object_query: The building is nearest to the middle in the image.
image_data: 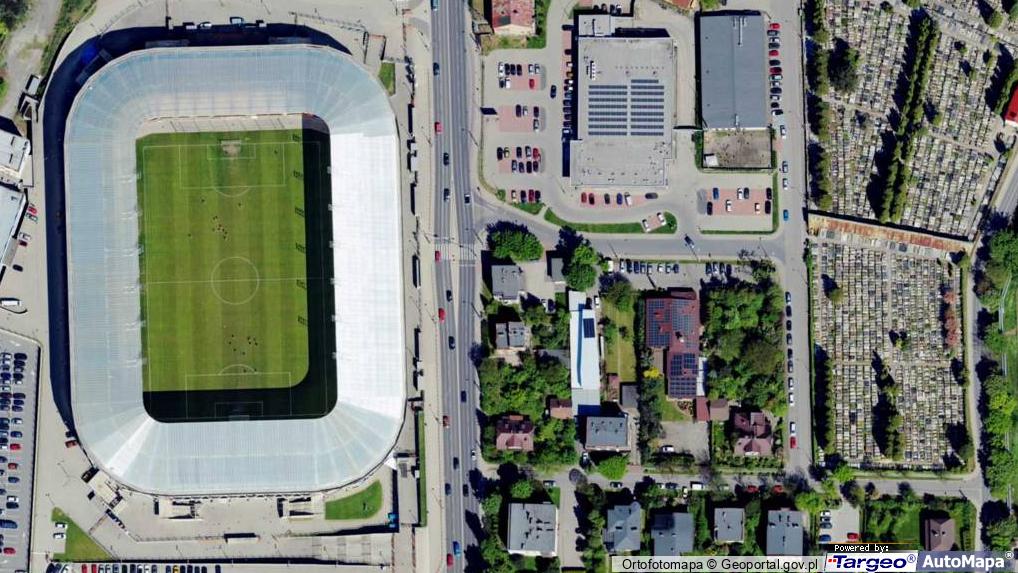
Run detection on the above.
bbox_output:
[492,265,522,306]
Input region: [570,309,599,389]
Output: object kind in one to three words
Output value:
building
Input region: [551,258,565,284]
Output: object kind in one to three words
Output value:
building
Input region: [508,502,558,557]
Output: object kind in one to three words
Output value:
house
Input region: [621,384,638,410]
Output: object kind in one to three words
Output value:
shed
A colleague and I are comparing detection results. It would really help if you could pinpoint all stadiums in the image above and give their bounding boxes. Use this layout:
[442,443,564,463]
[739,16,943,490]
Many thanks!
[64,42,407,500]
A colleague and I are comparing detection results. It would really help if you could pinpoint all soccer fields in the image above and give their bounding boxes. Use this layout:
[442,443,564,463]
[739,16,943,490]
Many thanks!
[135,129,336,421]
